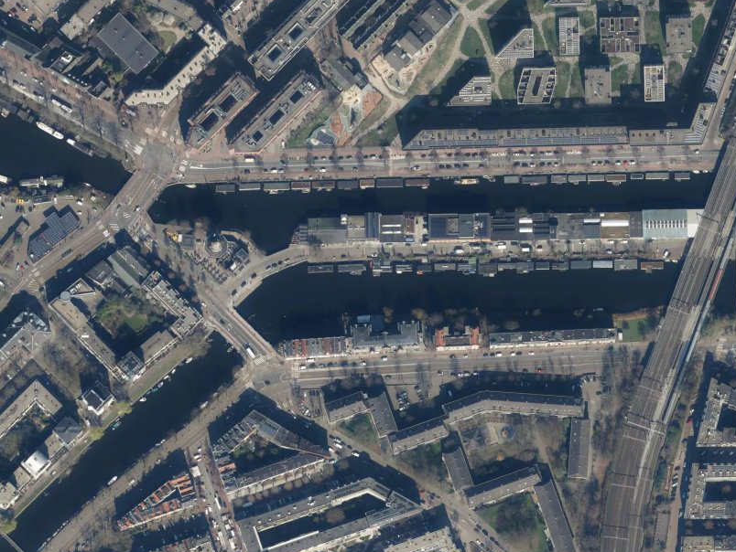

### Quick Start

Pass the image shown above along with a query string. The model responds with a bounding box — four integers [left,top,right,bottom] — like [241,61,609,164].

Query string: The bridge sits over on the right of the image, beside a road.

[600,128,736,552]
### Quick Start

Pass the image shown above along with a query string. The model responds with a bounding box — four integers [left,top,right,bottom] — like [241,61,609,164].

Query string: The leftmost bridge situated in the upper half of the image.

[109,169,165,211]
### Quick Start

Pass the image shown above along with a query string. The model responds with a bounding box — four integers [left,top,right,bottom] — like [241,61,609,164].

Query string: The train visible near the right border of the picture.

[672,221,736,390]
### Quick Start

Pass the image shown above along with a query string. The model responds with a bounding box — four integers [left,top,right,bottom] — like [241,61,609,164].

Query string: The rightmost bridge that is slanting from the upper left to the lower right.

[207,307,281,361]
